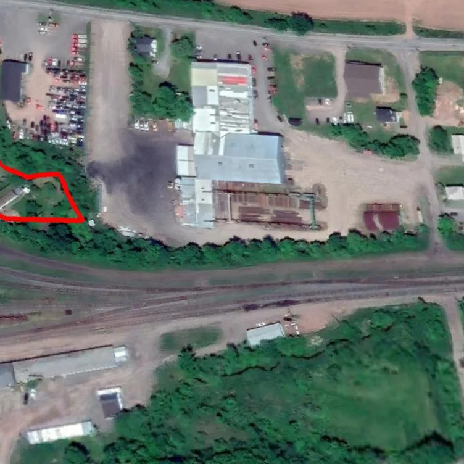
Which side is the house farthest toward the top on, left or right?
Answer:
left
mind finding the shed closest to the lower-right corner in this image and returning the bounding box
[246,323,286,345]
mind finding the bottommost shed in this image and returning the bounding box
[27,421,95,443]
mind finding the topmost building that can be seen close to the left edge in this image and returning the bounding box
[0,61,31,103]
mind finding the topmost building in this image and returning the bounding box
[135,39,156,59]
